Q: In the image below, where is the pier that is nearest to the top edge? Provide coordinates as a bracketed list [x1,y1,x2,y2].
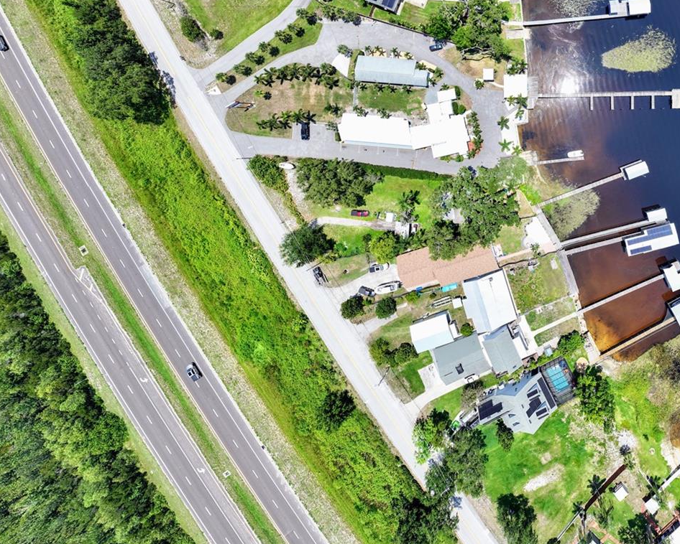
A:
[505,0,628,24]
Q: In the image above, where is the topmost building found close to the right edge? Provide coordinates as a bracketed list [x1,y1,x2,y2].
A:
[627,0,650,16]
